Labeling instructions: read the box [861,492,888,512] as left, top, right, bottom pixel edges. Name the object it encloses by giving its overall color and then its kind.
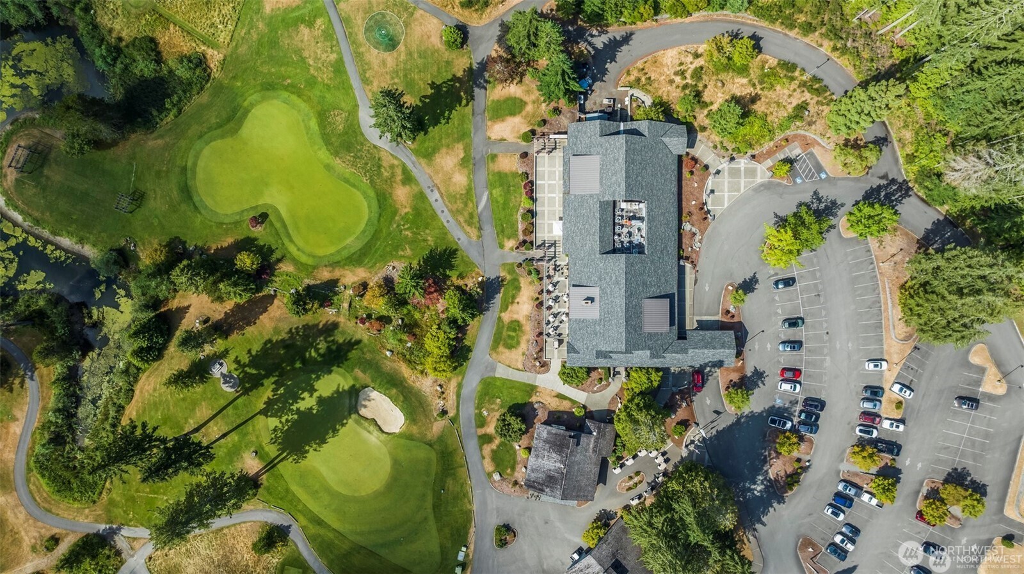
white vehicle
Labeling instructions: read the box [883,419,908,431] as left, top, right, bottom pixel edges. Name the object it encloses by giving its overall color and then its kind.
white vehicle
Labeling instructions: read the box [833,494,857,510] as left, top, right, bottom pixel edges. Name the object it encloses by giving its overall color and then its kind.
blue car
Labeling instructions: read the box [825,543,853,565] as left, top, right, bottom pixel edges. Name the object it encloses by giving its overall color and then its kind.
blue truck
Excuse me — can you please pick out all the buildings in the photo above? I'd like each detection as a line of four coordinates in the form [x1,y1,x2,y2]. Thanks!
[562,119,737,367]
[525,419,615,501]
[567,517,668,574]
